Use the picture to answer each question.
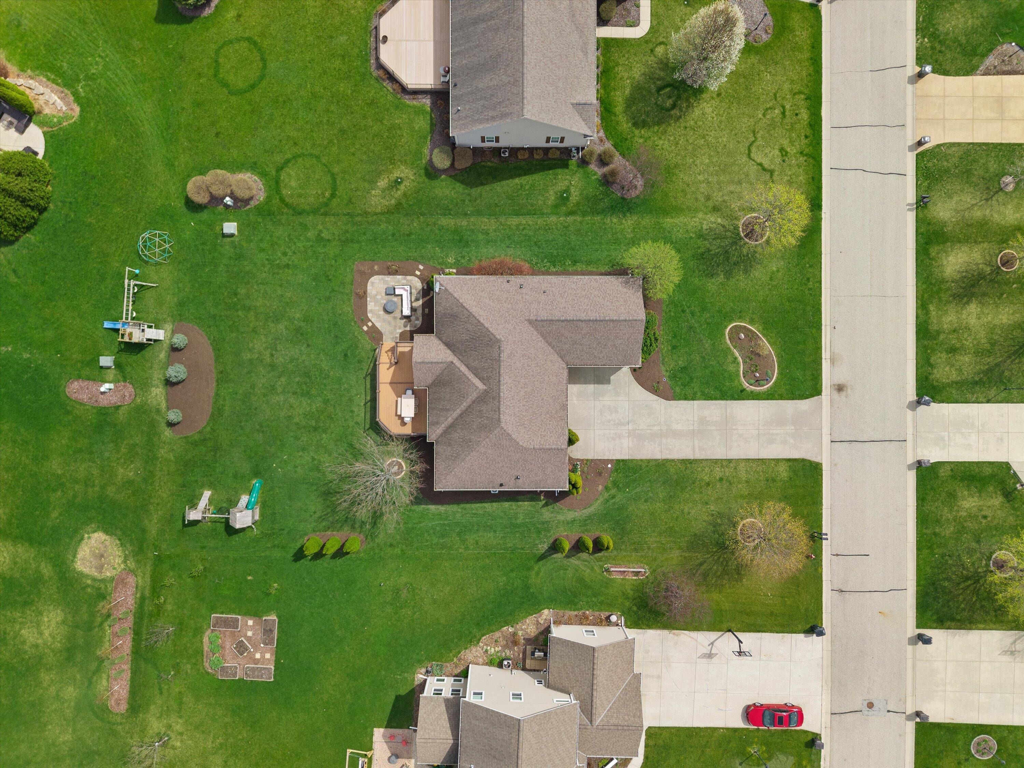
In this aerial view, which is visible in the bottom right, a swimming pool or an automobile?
automobile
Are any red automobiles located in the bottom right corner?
Yes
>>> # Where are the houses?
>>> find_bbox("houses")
[448,0,601,158]
[409,610,647,768]
[411,273,649,497]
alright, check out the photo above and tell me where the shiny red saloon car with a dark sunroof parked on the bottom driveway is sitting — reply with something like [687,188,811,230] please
[744,701,803,731]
